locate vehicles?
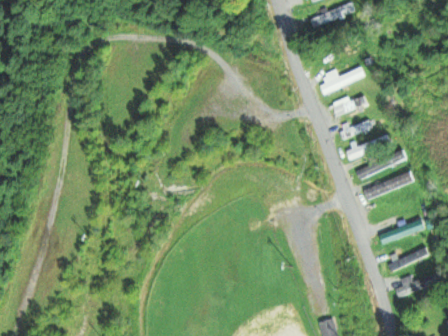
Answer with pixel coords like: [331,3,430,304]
[359,194,368,206]
[377,255,390,262]
[329,124,339,132]
[338,148,345,159]
[314,70,325,81]
[390,282,402,288]
[324,54,334,64]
